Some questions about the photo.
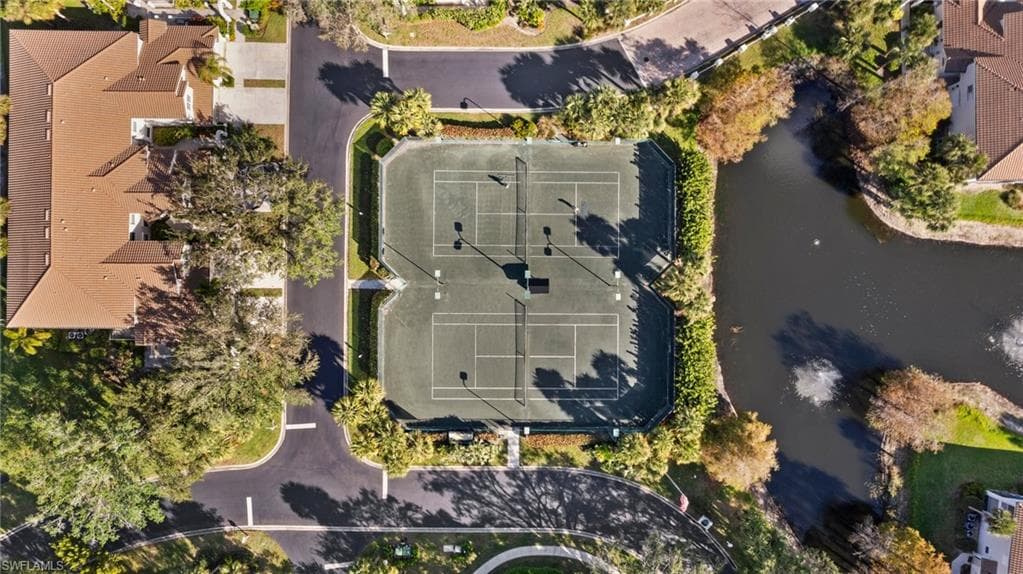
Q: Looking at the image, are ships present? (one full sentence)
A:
No, there is no ship in the image.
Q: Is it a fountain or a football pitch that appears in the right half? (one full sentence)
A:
You can see a fountain in the right half.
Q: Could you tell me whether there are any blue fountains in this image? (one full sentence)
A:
No, I can't see a single blue fountain in this photo.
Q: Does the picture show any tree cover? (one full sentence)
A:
Yes, some tree cover is visible.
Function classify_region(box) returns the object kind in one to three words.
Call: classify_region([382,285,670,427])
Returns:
tennis court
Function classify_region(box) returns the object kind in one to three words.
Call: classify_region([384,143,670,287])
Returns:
tennis court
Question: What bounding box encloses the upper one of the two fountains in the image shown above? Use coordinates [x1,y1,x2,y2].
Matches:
[985,315,1023,372]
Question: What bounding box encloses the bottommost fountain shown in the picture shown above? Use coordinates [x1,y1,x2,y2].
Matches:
[783,348,848,414]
